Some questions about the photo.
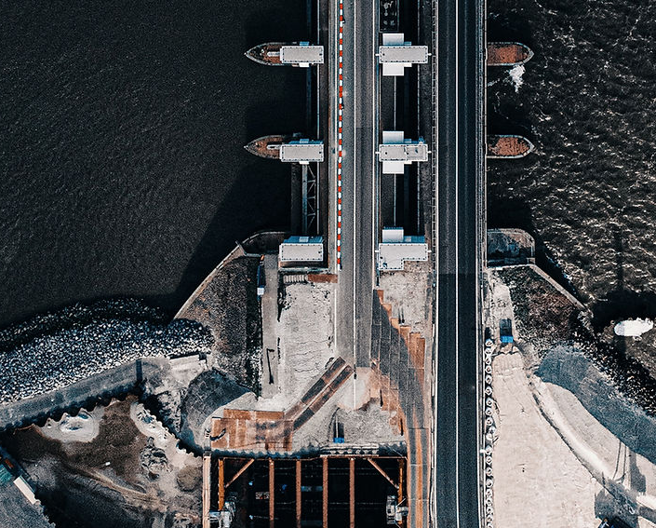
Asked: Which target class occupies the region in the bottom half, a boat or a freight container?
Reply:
freight container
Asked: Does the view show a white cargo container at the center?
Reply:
No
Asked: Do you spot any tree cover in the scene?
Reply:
No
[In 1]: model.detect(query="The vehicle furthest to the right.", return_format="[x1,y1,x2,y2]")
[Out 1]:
[500,319,512,344]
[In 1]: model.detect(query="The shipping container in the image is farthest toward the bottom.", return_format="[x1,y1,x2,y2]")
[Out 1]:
[10,472,42,505]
